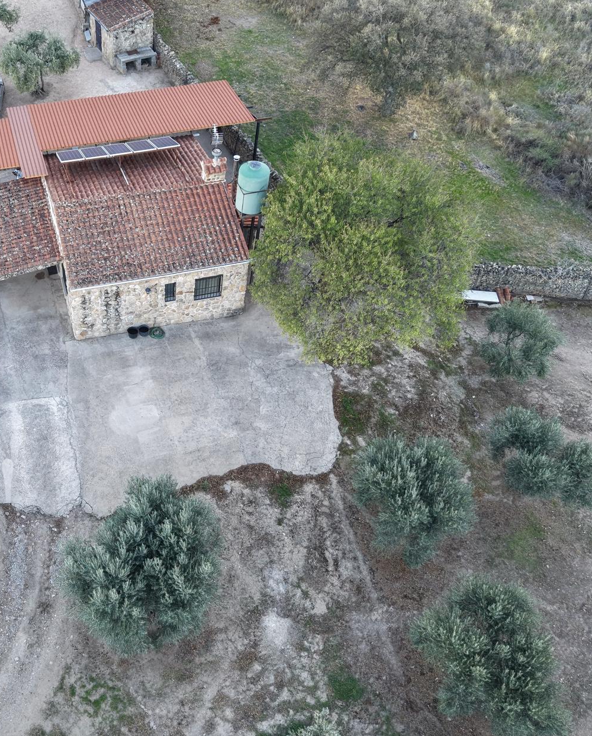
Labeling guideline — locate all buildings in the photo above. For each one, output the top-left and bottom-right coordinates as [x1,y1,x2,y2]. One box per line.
[41,132,262,339]
[82,0,159,66]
